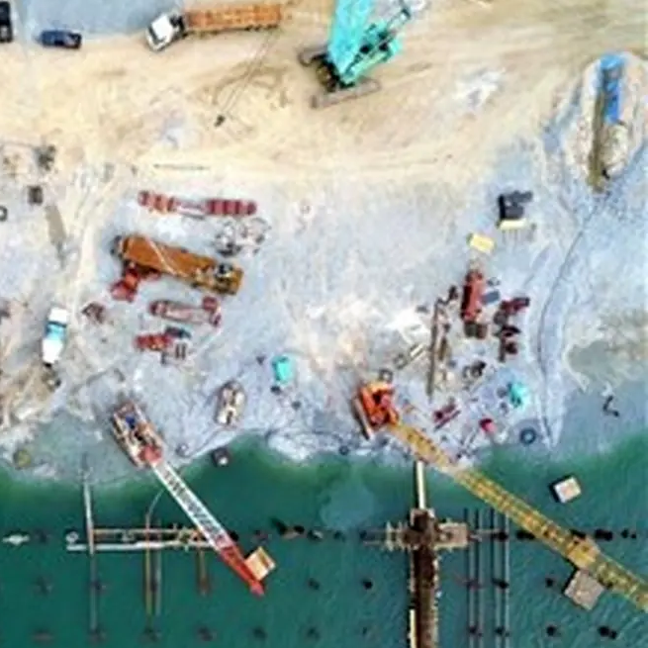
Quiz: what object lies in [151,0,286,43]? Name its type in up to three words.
vehicle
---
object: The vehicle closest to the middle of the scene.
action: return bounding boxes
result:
[214,383,246,424]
